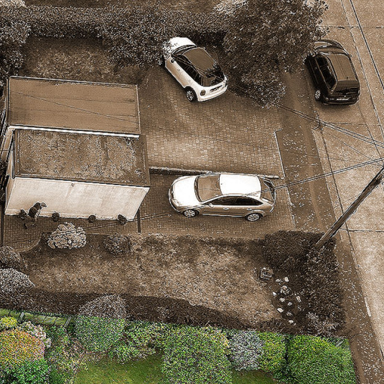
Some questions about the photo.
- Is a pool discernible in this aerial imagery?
No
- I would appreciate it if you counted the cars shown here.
3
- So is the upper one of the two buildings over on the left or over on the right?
left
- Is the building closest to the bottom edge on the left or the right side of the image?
left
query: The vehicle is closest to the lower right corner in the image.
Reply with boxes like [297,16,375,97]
[168,170,280,227]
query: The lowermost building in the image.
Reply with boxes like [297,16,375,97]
[2,121,150,221]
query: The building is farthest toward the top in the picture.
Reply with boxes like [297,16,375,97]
[0,74,141,154]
